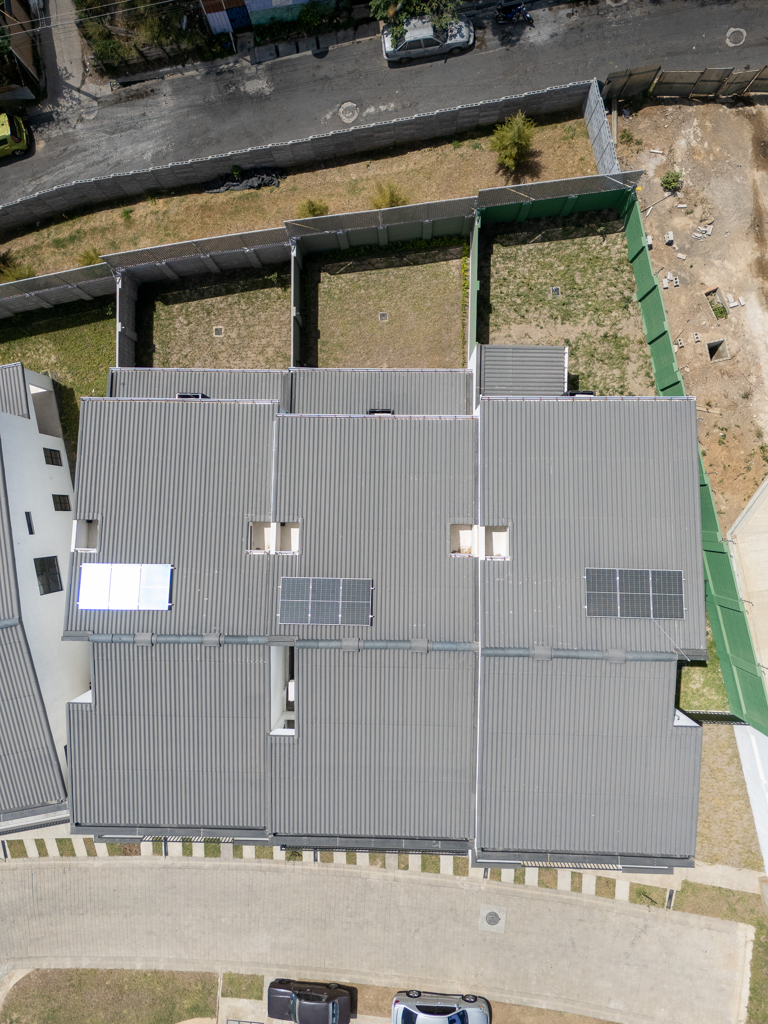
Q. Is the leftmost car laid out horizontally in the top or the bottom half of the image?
bottom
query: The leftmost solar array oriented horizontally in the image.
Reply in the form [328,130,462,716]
[75,563,176,611]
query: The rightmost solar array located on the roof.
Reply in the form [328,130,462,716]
[580,567,690,620]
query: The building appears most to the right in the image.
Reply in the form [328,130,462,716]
[468,343,712,866]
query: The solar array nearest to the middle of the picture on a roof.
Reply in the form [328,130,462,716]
[275,577,376,626]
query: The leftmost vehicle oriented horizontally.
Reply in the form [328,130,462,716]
[263,983,349,1024]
